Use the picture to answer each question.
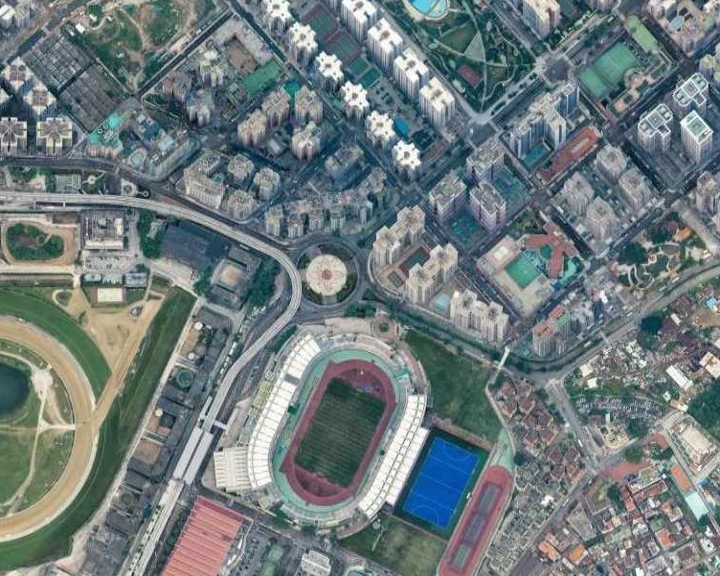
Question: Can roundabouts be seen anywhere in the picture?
Yes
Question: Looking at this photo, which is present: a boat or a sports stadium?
sports stadium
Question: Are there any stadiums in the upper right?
No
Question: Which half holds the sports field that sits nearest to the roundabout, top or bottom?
bottom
